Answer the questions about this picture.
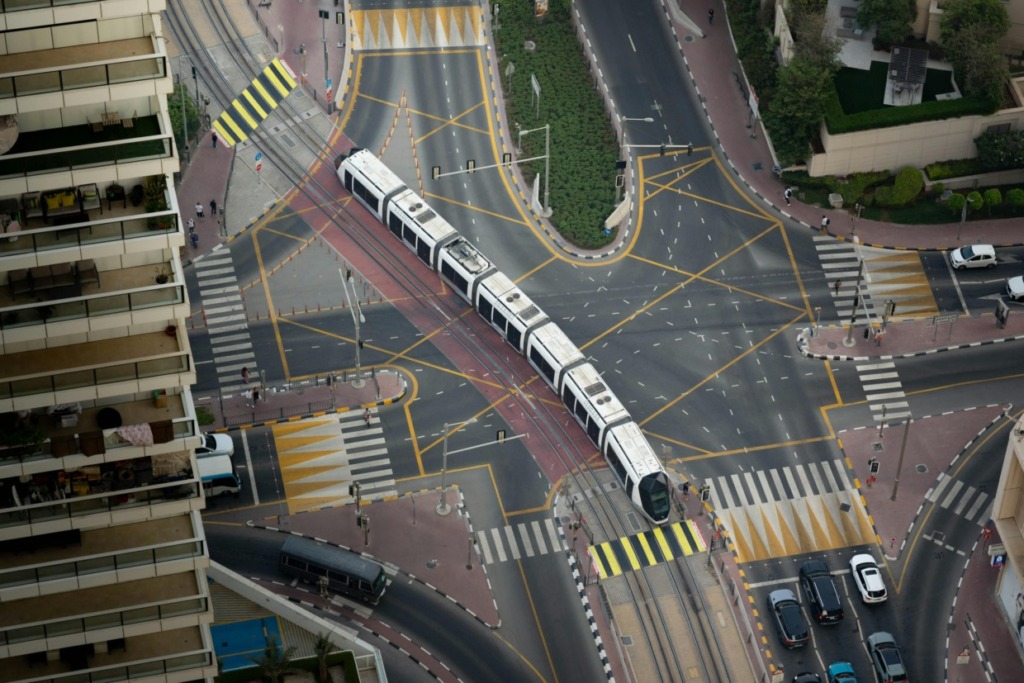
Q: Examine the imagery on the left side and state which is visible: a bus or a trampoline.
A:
bus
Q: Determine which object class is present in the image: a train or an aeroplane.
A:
train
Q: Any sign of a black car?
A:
Yes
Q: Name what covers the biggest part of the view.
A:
paved ground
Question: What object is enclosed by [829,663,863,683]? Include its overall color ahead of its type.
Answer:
blue car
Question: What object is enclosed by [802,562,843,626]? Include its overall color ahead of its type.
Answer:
black car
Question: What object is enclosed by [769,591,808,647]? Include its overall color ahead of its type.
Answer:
black car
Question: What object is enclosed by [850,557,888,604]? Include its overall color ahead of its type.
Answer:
white car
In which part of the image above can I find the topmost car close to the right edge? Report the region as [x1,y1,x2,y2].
[949,243,999,271]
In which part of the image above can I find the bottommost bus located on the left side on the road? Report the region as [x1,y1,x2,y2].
[278,534,387,606]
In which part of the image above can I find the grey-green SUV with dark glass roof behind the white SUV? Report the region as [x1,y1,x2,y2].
[868,634,909,683]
